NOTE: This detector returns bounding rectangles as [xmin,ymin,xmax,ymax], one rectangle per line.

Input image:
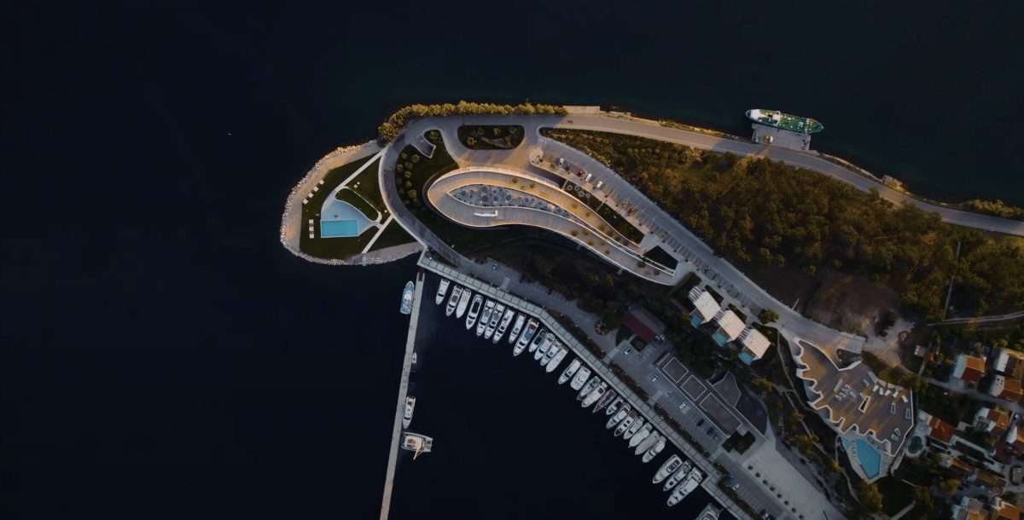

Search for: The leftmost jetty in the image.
[379,272,424,520]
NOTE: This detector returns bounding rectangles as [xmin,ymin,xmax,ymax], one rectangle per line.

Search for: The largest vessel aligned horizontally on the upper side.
[743,107,824,133]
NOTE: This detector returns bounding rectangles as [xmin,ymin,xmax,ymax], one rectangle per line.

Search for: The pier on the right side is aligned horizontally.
[750,125,811,151]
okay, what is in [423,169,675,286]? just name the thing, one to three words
building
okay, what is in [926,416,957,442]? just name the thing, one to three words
house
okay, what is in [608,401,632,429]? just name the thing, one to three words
boat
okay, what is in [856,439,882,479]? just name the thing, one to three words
swimming pool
